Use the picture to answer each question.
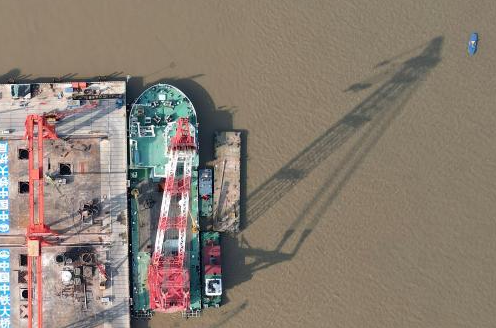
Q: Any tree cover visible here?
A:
No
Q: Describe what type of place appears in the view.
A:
port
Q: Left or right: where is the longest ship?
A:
left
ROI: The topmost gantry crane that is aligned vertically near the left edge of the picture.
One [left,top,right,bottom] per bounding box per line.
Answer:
[22,115,60,237]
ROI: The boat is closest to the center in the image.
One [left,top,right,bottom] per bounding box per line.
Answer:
[198,166,216,217]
